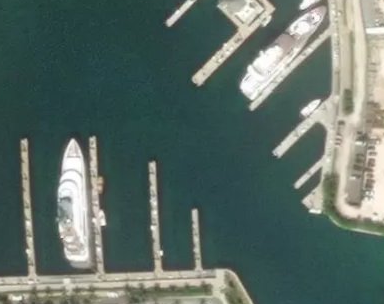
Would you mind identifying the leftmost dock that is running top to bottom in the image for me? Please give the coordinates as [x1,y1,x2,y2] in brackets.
[21,138,37,273]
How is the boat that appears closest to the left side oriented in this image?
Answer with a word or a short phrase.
up and down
